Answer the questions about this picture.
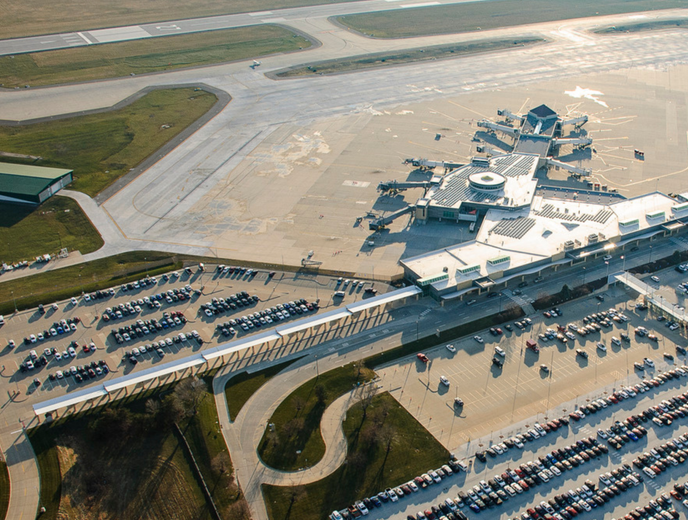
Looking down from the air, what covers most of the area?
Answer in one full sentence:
What you mostly see from above here is paved ground.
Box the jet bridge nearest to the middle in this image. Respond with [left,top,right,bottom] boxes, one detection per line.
[369,202,415,230]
